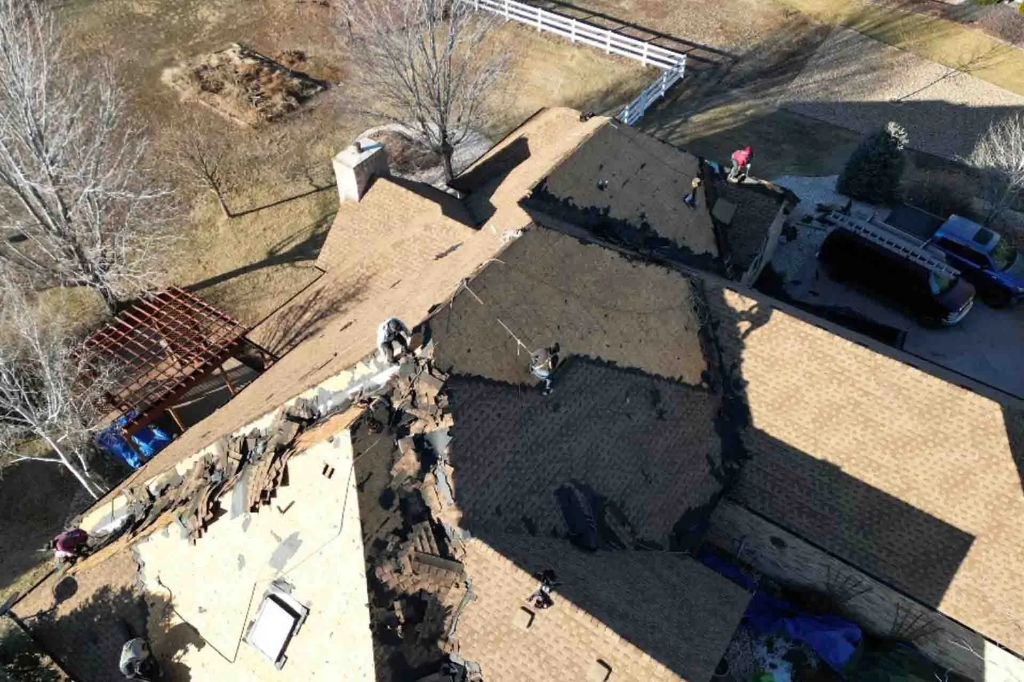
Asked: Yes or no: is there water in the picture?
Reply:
No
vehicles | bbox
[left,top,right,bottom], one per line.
[874,200,1024,300]
[813,202,981,320]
